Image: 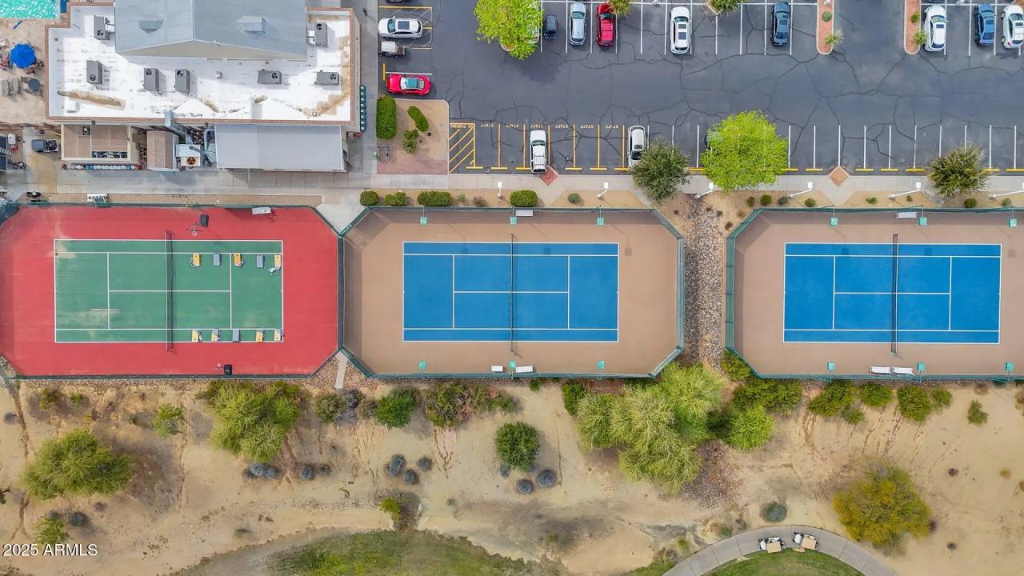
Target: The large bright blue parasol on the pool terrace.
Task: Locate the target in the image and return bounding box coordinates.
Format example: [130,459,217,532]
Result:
[11,45,37,70]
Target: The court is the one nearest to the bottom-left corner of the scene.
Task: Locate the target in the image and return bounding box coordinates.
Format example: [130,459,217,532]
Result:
[0,206,340,376]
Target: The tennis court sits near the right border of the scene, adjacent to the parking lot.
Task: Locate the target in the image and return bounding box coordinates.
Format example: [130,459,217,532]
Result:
[726,211,1024,376]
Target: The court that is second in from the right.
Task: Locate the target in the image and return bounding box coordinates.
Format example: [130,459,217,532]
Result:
[344,210,678,374]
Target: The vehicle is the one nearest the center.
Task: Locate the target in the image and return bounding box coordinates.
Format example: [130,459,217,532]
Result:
[529,131,549,174]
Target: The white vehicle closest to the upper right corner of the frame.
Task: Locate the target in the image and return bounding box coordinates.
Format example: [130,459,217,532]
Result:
[1000,6,1024,50]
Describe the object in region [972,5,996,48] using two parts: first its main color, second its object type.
blue car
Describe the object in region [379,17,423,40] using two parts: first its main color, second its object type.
white car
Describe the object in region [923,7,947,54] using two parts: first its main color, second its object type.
white car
